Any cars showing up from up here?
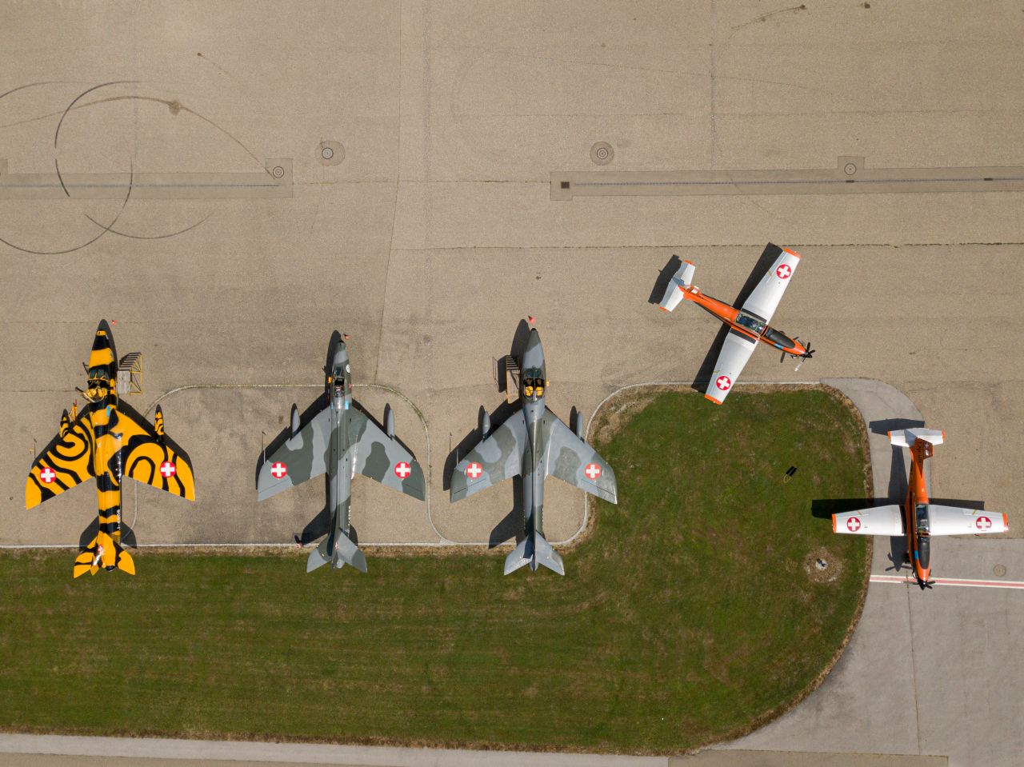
No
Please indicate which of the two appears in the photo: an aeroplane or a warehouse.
aeroplane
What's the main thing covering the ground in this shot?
paved ground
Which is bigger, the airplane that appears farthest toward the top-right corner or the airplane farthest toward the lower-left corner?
the airplane farthest toward the lower-left corner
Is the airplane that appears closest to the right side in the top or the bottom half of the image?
bottom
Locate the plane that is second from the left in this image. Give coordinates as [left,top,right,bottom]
[258,339,426,573]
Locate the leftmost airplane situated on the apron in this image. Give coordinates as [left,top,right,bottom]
[27,330,195,579]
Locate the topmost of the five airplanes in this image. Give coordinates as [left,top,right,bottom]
[658,247,818,404]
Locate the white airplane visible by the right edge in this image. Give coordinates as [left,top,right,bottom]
[833,427,1005,591]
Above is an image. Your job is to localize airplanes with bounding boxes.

[658,247,818,404]
[833,427,1005,591]
[27,330,195,579]
[258,339,426,573]
[450,327,618,575]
